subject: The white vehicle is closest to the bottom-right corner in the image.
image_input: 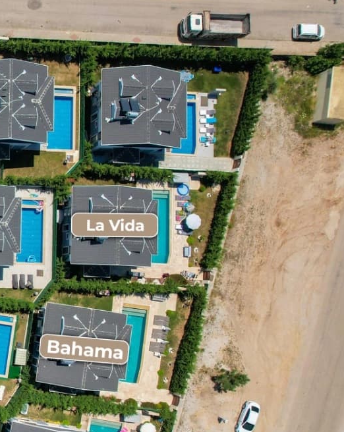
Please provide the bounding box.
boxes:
[236,402,264,432]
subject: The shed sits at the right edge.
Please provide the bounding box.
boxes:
[312,67,344,123]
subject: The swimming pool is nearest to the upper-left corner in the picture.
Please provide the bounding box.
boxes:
[44,87,76,152]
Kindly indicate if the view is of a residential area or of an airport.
residential area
